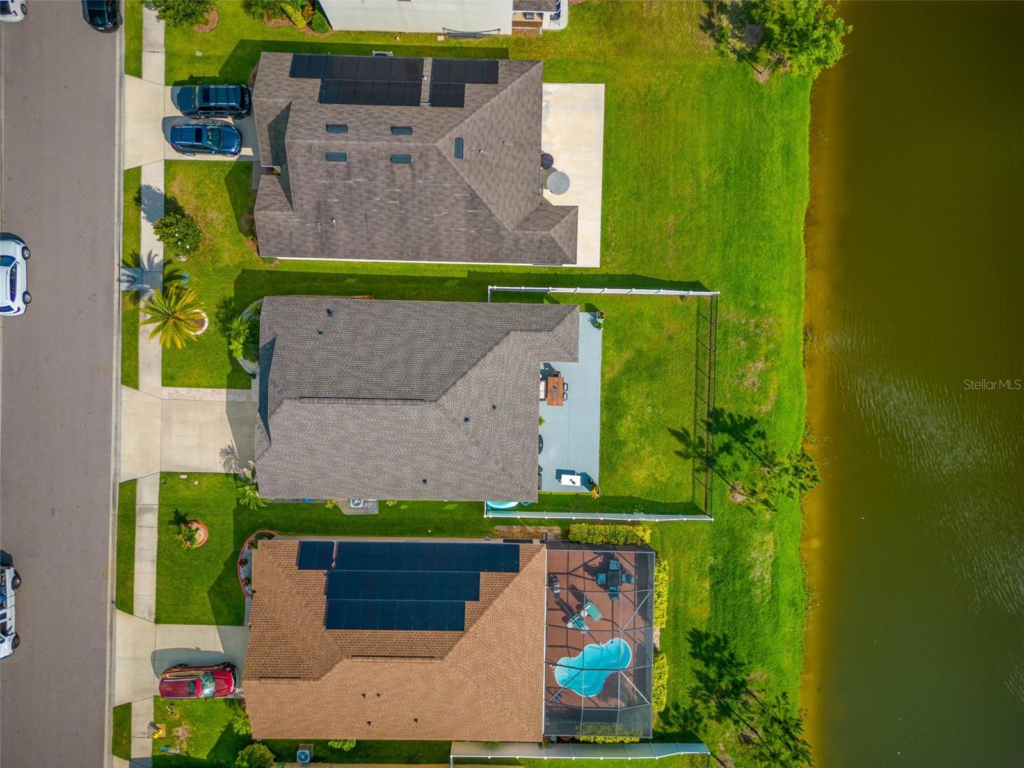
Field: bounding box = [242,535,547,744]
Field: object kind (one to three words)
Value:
house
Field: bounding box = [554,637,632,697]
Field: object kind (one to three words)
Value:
swimming pool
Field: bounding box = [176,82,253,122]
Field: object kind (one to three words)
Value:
car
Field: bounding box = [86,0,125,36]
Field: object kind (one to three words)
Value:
car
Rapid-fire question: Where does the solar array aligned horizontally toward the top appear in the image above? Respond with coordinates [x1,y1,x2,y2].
[289,54,499,107]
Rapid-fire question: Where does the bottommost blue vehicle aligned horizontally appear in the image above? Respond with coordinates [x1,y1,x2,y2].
[169,122,246,160]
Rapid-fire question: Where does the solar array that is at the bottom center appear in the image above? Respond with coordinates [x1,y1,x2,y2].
[297,542,519,631]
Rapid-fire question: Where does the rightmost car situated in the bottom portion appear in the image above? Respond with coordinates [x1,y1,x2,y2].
[159,661,240,702]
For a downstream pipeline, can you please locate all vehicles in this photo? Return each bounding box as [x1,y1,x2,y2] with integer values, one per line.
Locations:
[176,82,253,122]
[0,0,30,26]
[0,563,24,659]
[159,661,240,702]
[169,122,246,160]
[0,240,33,316]
[86,0,125,36]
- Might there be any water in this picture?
Yes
